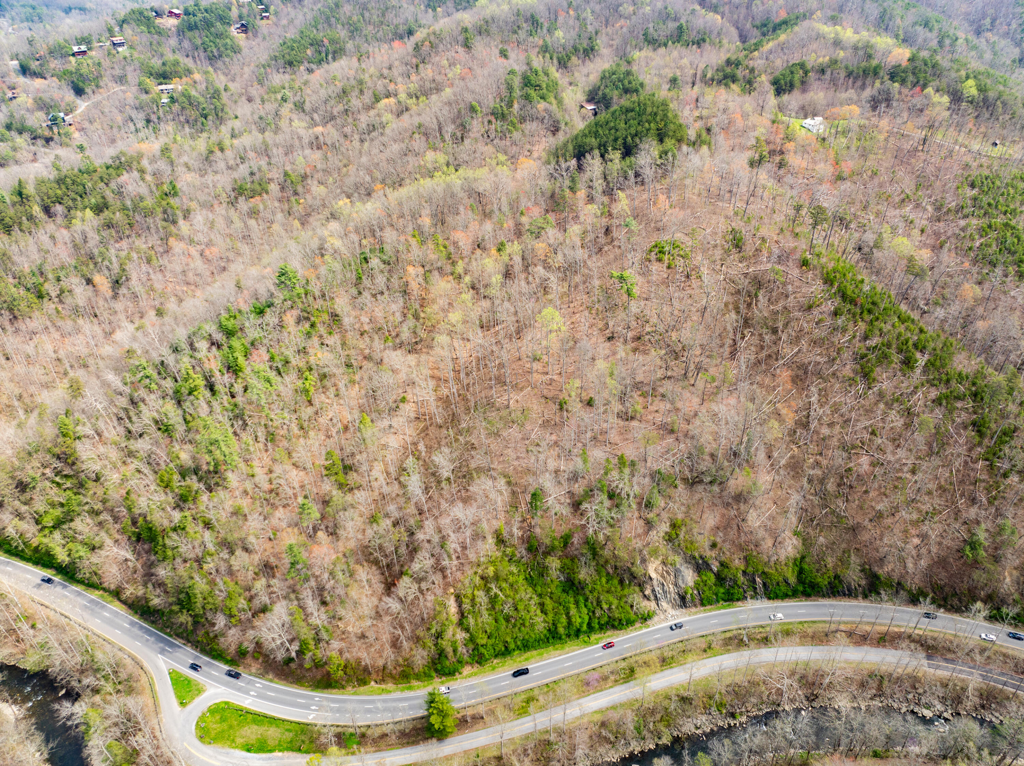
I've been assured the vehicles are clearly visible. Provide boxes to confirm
[770,613,784,620]
[1010,633,1024,641]
[670,621,684,630]
[512,667,529,677]
[923,612,938,619]
[225,669,241,679]
[602,641,615,649]
[436,685,451,694]
[981,634,997,641]
[189,663,202,672]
